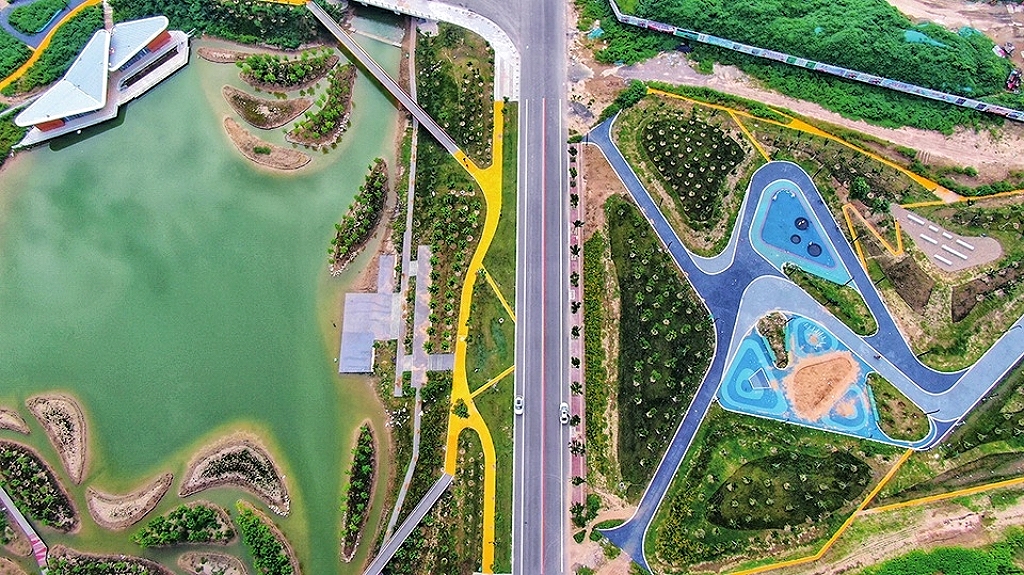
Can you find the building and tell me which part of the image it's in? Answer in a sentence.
You can find the building in the top left area of the picture.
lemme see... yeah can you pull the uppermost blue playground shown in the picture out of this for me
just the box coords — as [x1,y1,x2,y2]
[749,179,862,293]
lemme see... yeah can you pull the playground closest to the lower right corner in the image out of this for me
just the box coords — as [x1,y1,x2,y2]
[719,311,937,447]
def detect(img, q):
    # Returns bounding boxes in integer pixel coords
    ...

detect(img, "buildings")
[12,14,194,151]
